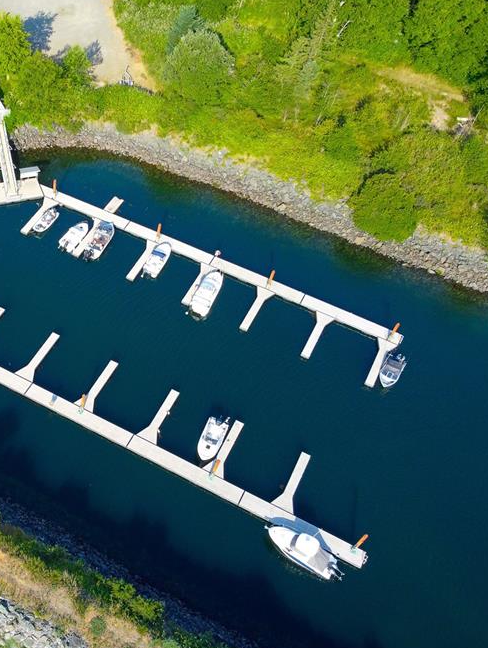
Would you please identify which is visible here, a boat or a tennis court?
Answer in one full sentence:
There is a boat in the scene.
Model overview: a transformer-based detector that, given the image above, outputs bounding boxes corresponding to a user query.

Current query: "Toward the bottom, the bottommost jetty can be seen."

[0,308,366,571]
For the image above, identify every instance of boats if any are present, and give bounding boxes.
[268,522,343,588]
[201,411,235,463]
[183,267,226,324]
[83,220,114,264]
[378,351,408,389]
[31,204,61,233]
[141,237,171,284]
[57,219,88,255]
